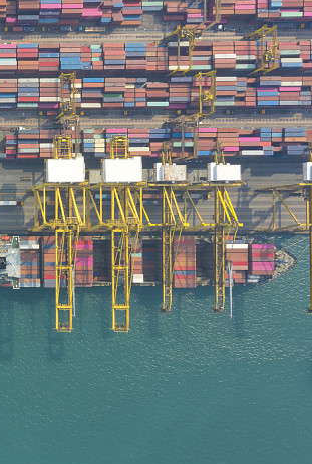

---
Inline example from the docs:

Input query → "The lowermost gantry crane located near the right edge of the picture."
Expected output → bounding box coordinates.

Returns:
[241,137,312,314]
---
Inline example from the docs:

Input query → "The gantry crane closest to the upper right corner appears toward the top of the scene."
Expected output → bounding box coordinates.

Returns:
[239,25,278,80]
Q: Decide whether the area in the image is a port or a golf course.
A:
port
